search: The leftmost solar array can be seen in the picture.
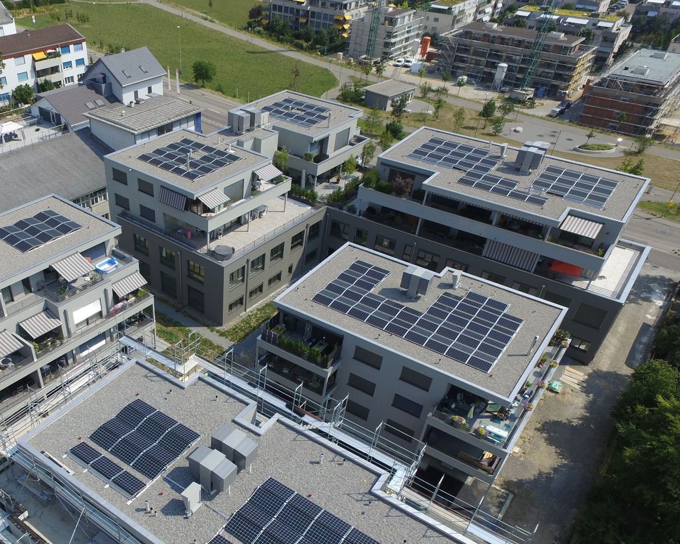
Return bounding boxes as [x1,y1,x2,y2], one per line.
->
[0,210,84,254]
